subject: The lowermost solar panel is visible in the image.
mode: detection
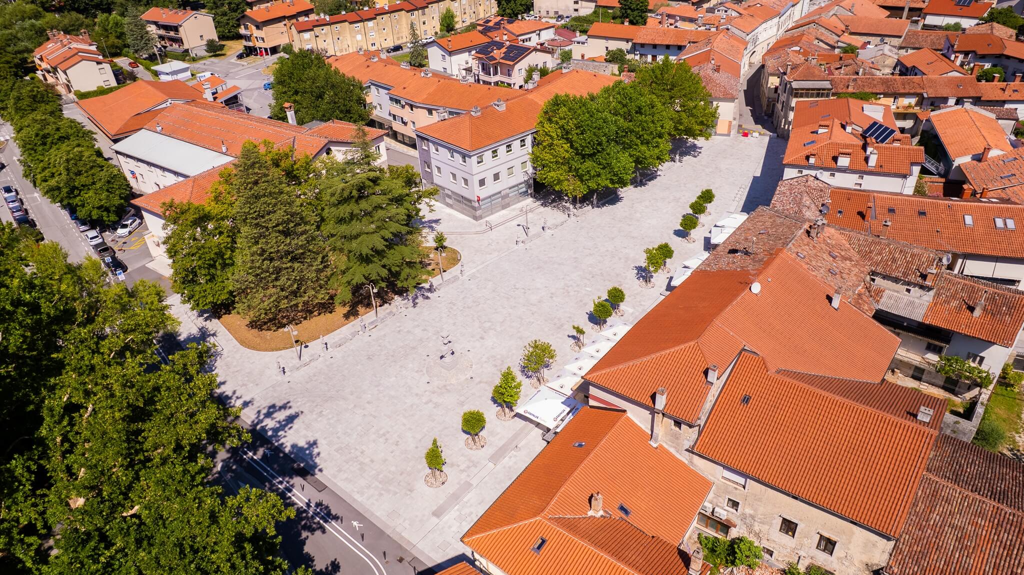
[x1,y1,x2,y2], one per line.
[861,121,896,144]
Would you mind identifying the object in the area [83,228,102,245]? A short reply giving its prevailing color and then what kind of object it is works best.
white car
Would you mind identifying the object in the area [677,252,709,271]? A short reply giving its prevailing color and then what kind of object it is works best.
white umbrella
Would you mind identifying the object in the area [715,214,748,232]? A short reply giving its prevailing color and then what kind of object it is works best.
white umbrella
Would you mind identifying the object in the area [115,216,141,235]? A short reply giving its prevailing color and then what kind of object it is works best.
white car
